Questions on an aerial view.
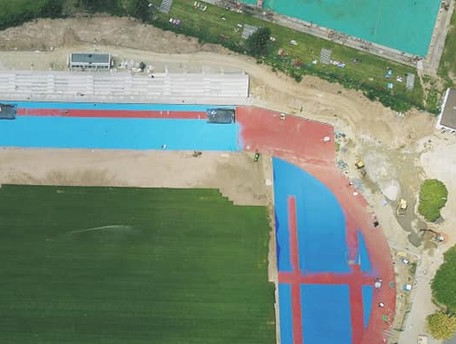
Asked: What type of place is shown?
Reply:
sports ground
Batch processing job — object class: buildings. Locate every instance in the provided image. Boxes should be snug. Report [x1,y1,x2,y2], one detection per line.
[435,87,456,137]
[68,52,112,73]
